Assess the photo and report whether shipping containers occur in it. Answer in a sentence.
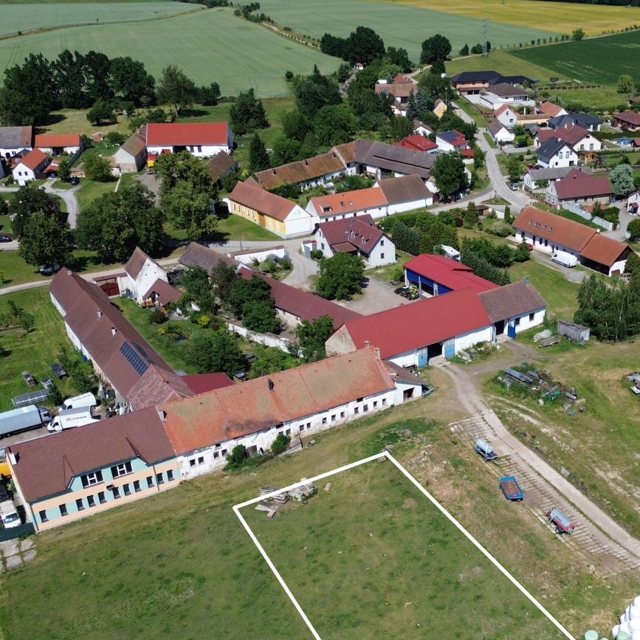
Yes, there's a shipping container here.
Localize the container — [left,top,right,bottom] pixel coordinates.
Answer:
[557,321,593,347]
